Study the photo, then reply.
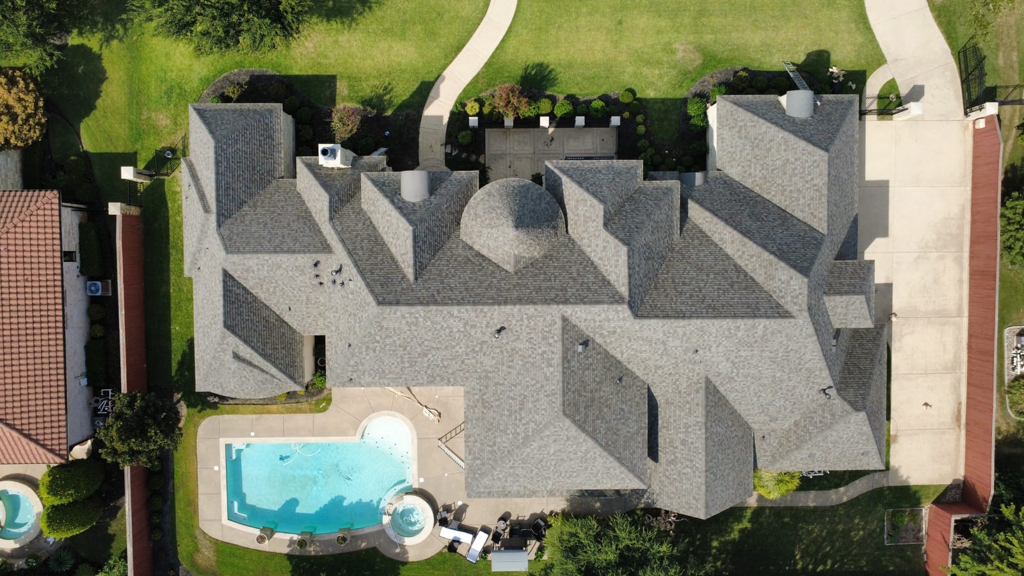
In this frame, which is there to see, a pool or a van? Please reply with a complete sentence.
I can see a pool in this picture.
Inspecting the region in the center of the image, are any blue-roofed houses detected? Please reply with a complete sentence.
No, there's no blue-roofed house to be seen in the center of the image.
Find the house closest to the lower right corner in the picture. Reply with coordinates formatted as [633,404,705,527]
[181,83,887,516]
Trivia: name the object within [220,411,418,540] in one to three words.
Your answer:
swimming pool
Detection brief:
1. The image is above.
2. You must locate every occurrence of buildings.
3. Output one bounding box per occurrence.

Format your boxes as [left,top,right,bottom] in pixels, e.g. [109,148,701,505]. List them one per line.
[181,83,887,516]
[0,188,94,466]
